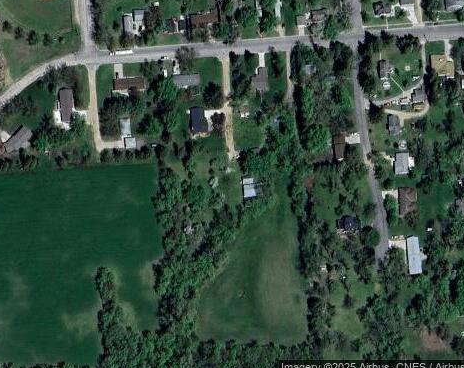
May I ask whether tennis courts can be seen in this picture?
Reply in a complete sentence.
No, no tennis court is visible in the scene.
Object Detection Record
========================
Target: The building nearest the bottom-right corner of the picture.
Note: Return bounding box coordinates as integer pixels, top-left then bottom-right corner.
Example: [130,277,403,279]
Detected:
[404,236,422,276]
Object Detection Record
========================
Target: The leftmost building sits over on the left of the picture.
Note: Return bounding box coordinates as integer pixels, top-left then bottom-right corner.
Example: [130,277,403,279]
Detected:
[3,127,32,154]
